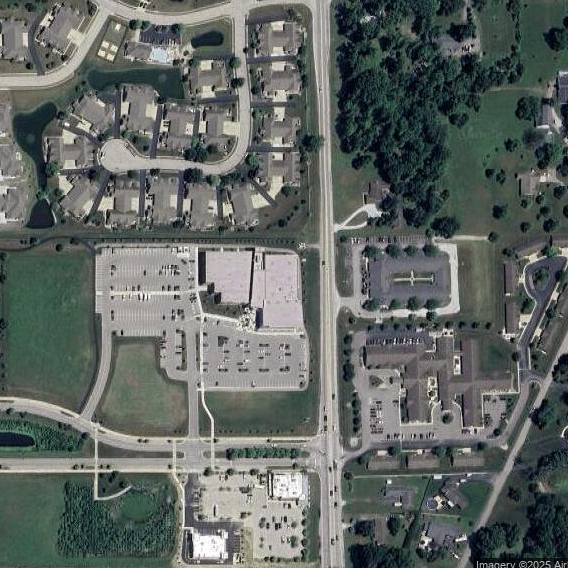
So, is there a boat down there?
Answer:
No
